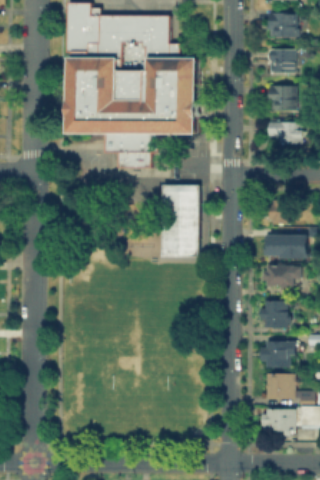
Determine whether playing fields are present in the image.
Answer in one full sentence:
Yes, this view includes a playing field.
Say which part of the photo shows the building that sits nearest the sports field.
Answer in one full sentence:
The building that sits nearest the sports field sits in the center section of the image.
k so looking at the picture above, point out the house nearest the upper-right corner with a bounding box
[268,12,300,37]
